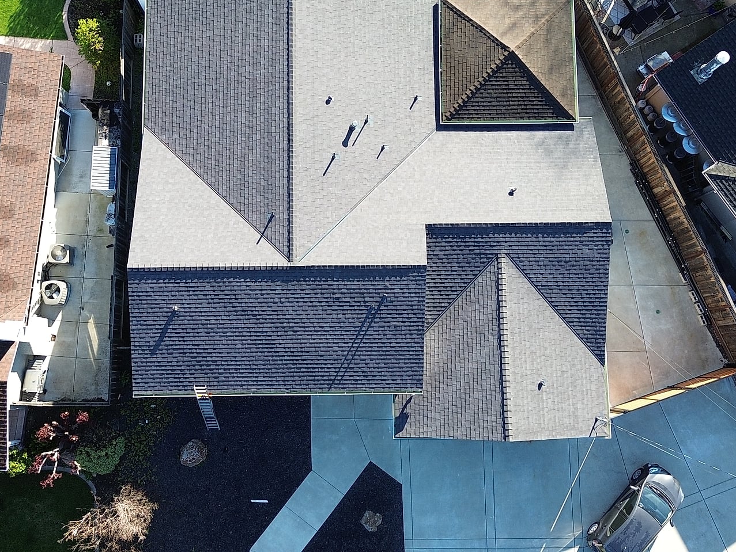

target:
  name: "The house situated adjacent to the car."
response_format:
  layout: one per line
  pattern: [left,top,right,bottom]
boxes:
[125,0,616,440]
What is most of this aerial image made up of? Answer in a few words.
buildings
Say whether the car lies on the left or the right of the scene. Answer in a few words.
right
